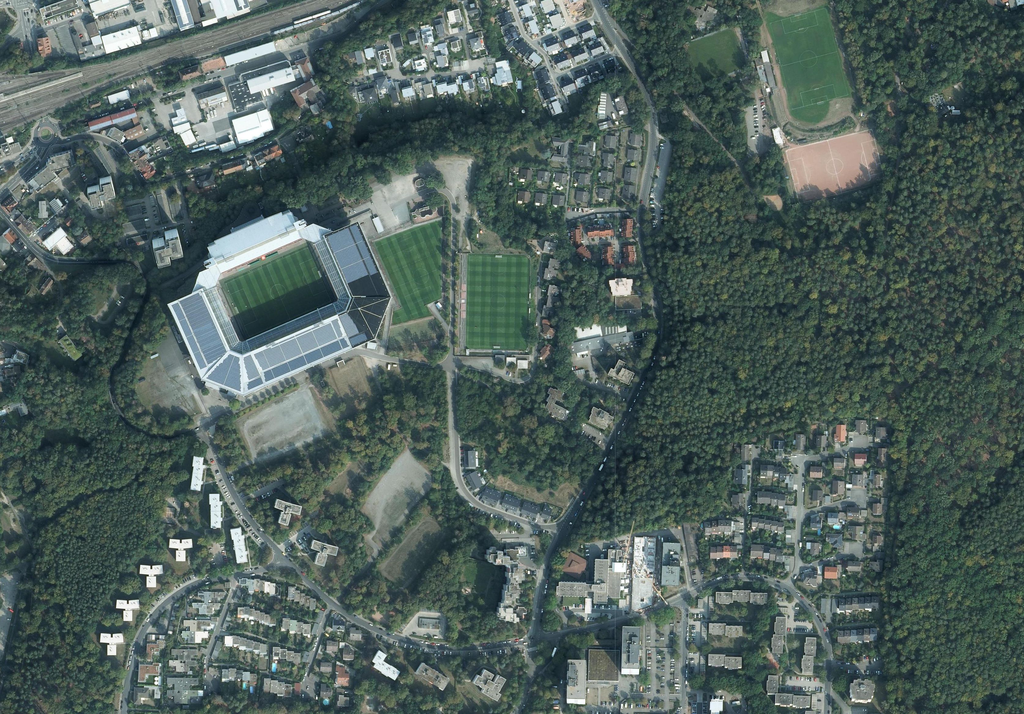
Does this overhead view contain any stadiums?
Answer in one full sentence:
Yes, looking at the shot, I can spot a stadium.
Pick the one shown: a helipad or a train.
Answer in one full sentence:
I can see a train in this picture.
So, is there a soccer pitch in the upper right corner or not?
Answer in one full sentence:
Yes, I can see a soccer pitch in the upper right corner.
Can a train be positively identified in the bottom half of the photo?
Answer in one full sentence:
No, I can find no train in the bottom half of the photo.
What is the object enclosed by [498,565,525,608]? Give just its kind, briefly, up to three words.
building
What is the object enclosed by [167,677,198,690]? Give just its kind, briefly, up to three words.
house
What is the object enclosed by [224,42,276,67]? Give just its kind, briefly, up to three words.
shed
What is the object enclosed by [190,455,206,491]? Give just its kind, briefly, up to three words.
building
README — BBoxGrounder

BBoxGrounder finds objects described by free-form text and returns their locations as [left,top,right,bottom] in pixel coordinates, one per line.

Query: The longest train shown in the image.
[273,1,362,34]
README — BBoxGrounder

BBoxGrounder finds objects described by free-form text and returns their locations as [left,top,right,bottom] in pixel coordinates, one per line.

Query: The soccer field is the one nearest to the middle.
[465,254,530,350]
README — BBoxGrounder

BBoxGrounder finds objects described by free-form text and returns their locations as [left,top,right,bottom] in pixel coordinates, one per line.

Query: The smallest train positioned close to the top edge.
[295,11,331,24]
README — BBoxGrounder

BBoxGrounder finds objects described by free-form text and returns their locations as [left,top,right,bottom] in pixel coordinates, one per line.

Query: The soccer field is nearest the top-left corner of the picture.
[222,246,334,339]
